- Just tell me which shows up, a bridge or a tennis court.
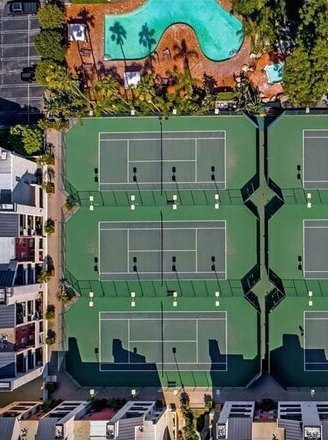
tennis court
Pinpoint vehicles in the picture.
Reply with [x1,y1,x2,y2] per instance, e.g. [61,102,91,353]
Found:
[6,1,37,16]
[18,69,42,81]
